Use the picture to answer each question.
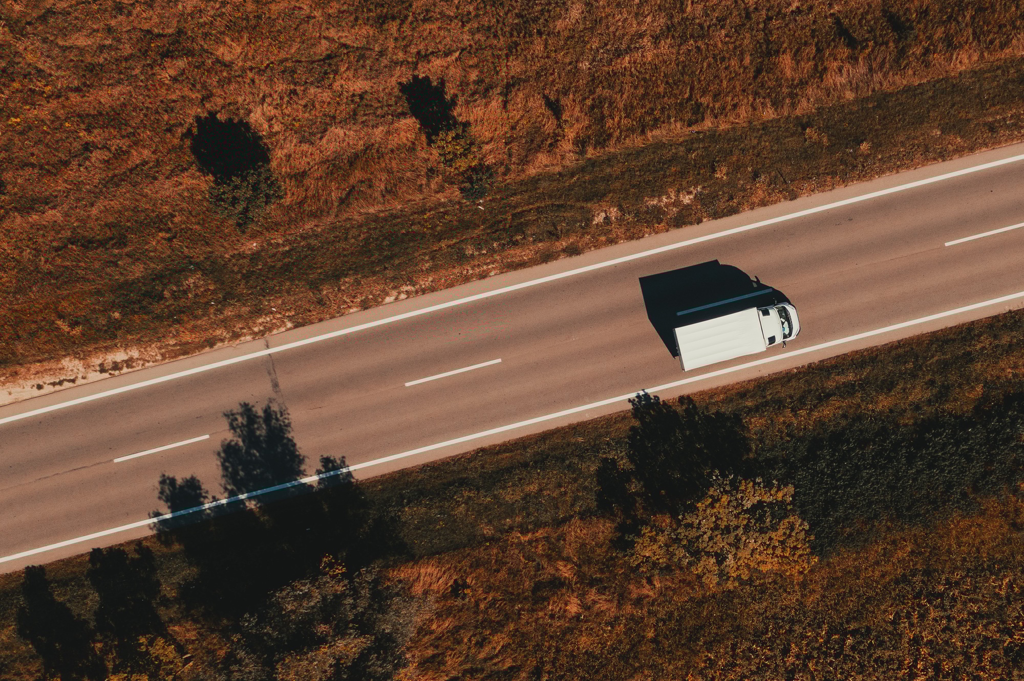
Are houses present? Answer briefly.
No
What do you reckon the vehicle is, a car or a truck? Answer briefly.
truck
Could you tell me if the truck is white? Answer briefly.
Yes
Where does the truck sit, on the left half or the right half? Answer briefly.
right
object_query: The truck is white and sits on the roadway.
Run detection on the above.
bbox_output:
[669,297,802,371]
